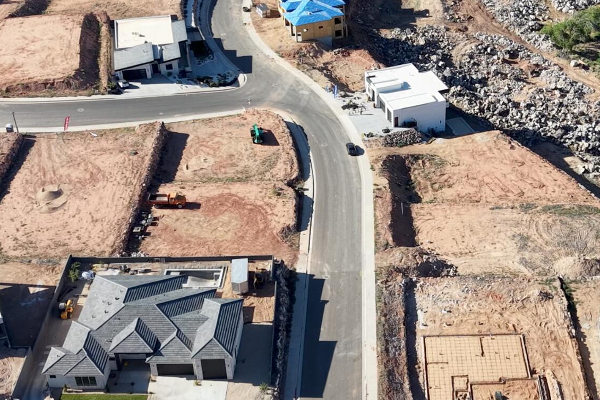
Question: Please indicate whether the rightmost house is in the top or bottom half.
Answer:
top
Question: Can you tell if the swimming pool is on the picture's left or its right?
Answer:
left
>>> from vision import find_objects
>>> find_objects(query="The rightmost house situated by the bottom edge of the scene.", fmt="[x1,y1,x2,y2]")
[41,274,245,388]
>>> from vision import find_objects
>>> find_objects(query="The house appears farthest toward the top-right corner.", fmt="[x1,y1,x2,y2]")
[365,63,448,127]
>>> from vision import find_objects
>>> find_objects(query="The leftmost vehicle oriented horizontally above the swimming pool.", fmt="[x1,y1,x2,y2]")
[145,191,186,209]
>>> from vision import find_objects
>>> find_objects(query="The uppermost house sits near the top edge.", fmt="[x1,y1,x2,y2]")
[277,0,346,41]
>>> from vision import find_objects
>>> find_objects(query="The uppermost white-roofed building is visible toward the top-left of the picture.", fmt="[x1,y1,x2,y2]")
[114,16,188,81]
